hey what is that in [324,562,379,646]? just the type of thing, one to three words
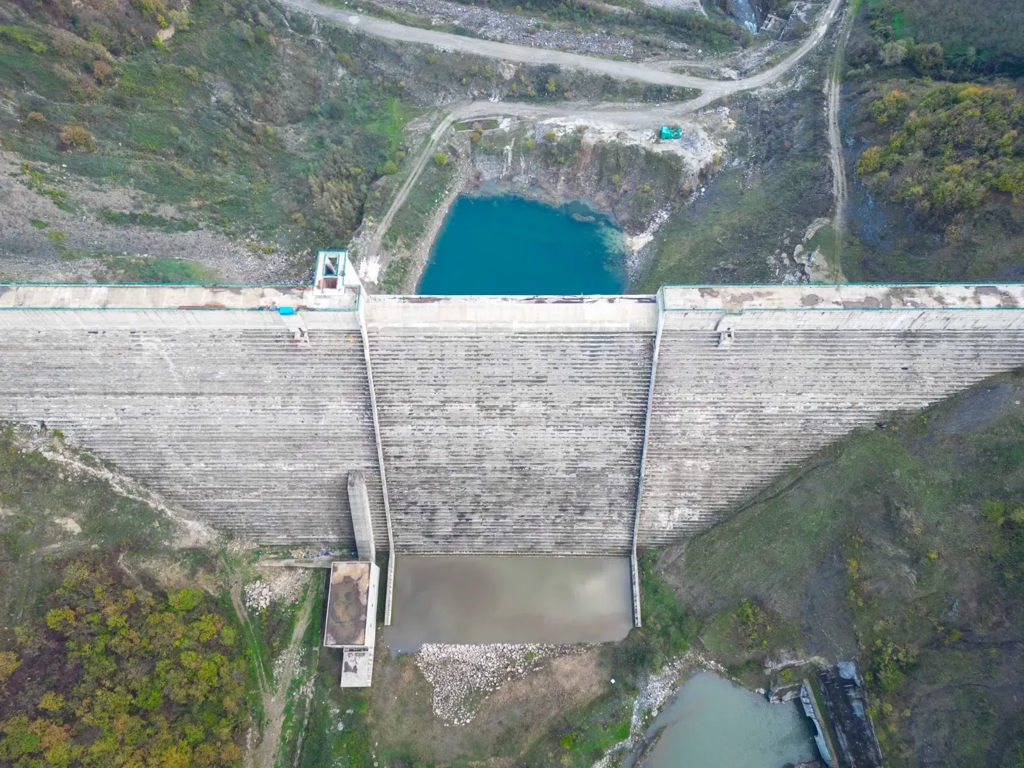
building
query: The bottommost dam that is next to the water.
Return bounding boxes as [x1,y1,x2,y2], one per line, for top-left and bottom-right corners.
[0,284,1024,560]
